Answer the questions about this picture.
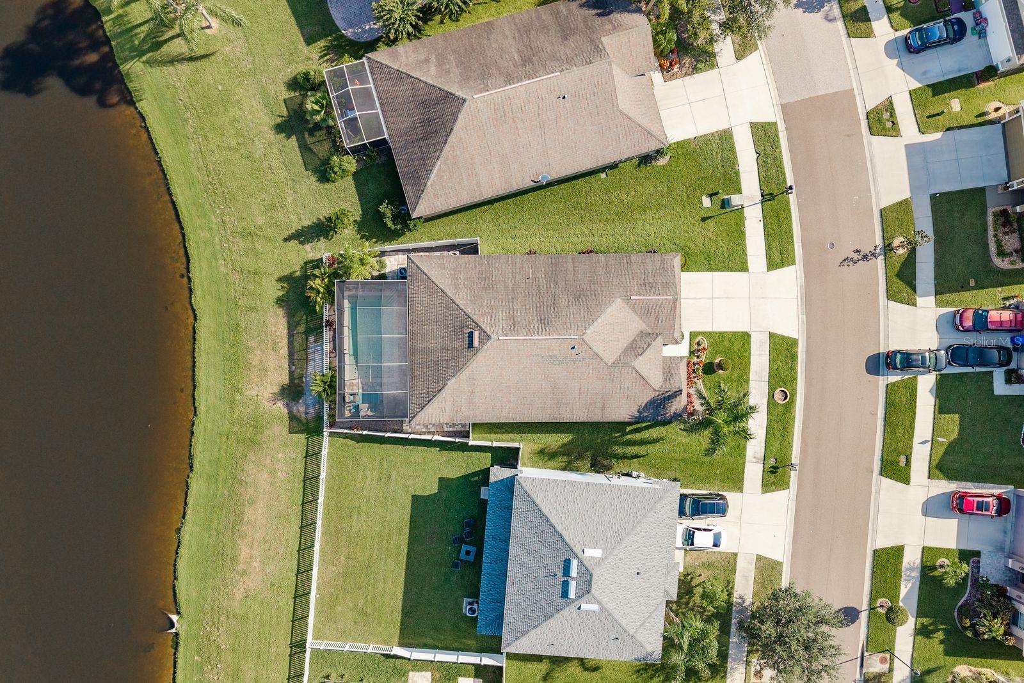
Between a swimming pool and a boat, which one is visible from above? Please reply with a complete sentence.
This aerial view contains a swimming pool.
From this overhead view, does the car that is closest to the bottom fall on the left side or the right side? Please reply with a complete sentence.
It is on the right.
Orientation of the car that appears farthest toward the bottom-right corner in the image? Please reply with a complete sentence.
The car that appears farthest toward the bottom-right corner is laid out horizontally.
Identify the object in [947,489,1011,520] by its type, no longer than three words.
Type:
car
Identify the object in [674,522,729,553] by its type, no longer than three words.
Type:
car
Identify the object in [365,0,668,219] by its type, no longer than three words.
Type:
house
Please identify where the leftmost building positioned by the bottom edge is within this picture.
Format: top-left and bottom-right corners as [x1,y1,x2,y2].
[476,460,681,663]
